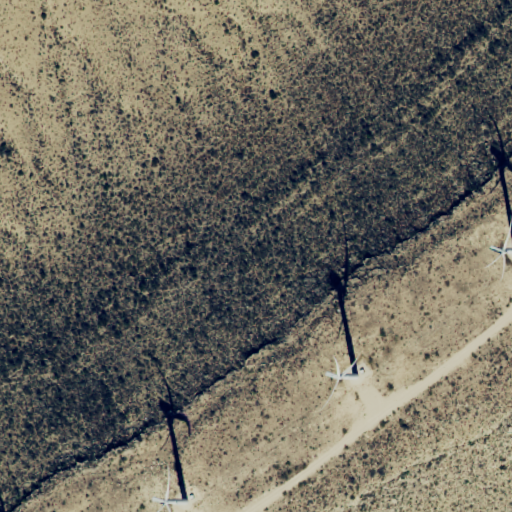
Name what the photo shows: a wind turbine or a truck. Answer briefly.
wind turbine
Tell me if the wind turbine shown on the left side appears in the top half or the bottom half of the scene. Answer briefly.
bottom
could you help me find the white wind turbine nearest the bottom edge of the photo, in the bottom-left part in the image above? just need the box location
[150,467,192,512]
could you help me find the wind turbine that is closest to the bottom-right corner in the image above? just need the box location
[316,356,362,410]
